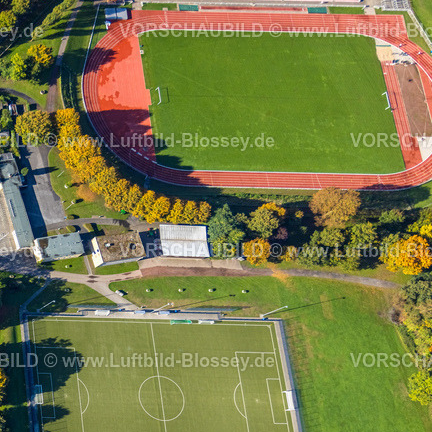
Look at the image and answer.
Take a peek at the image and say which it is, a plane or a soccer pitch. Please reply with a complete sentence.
There is a soccer pitch in the scene.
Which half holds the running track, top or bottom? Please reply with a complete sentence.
It is in the top half that the running track appears.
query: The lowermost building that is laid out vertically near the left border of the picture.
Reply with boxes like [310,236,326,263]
[1,180,33,251]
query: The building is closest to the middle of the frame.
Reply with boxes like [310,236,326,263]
[155,225,209,260]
